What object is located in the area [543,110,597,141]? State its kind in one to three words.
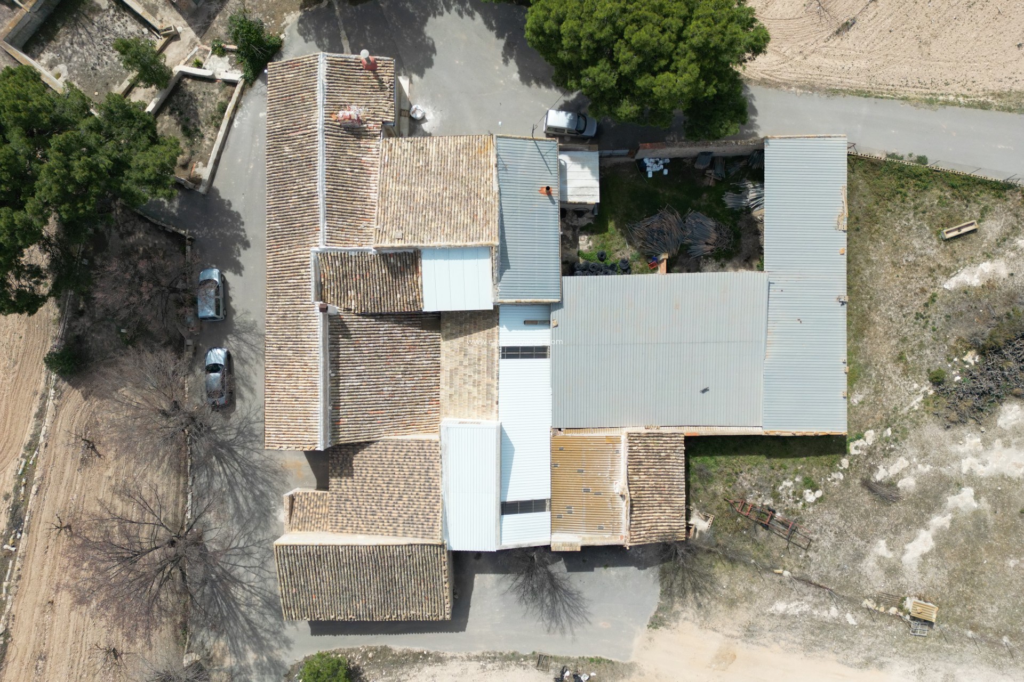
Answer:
vehicle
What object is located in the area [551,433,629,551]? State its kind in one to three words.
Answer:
shed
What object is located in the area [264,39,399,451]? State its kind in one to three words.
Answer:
house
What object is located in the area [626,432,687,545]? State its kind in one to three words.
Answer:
shed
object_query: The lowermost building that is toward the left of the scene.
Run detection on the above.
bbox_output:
[273,532,455,621]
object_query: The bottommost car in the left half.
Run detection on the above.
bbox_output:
[203,347,235,409]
